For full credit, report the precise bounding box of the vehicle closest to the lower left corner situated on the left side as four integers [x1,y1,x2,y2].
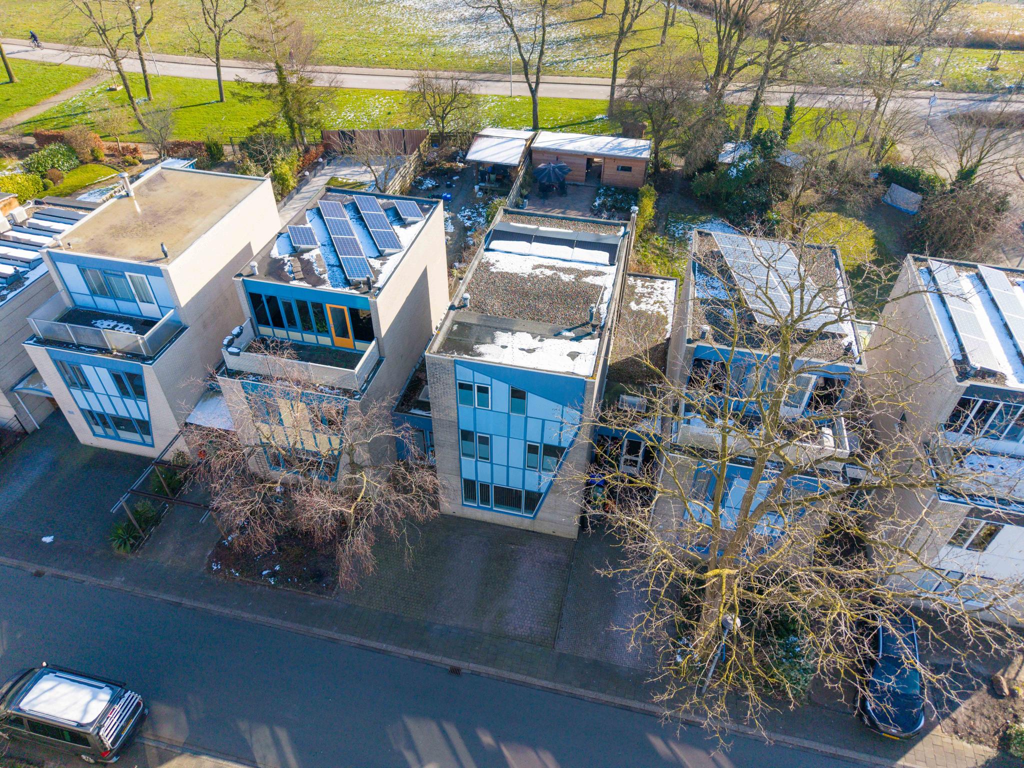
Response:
[0,660,154,765]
